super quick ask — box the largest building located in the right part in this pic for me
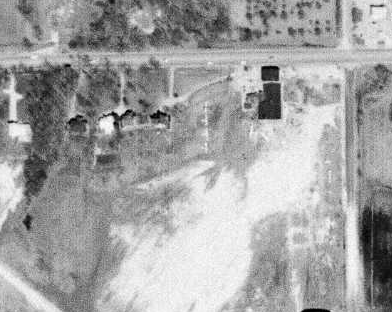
[259,81,282,119]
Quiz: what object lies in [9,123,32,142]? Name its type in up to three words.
house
